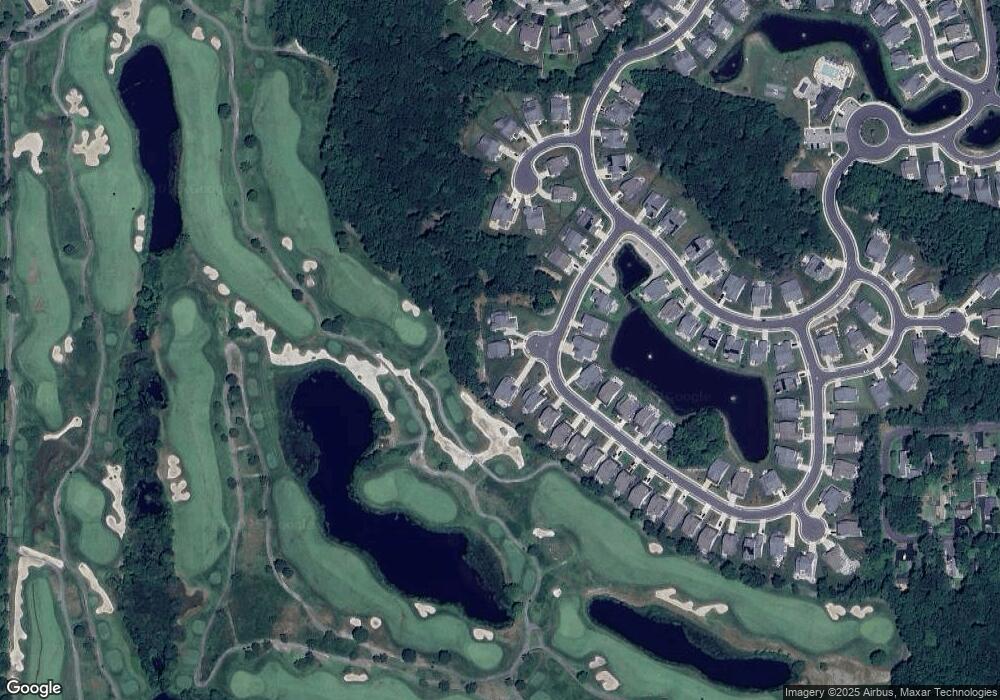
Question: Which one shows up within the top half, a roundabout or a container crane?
roundabout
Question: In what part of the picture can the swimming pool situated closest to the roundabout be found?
top right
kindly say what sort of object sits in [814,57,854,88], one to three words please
swimming pool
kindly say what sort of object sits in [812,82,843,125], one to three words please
building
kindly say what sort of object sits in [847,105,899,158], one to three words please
roundabout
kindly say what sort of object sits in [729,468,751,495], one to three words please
house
